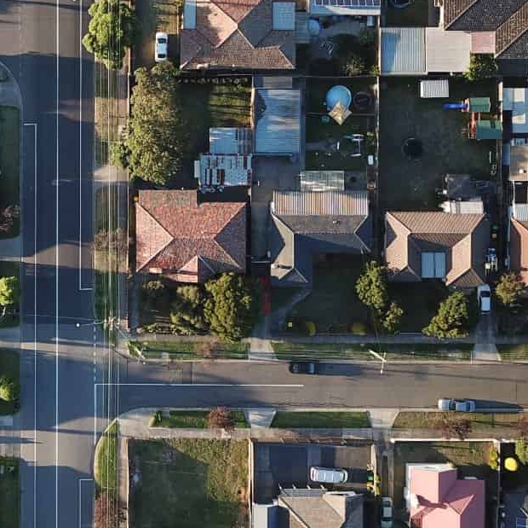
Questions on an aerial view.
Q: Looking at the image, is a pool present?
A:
Yes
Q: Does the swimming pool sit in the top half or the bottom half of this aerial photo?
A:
top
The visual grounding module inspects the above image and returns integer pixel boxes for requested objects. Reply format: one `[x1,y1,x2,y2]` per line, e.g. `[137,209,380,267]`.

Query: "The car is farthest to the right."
[475,289,492,315]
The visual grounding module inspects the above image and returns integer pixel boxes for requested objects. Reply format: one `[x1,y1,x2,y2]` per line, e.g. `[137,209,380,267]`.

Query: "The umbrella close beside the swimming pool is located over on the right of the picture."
[327,101,350,125]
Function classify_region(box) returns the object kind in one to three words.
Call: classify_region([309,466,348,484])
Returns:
vehicle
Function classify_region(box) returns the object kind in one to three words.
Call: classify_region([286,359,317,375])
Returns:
car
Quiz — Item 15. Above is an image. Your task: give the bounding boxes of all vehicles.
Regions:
[153,31,171,63]
[309,466,348,484]
[286,359,317,375]
[475,289,492,315]
[437,395,474,413]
